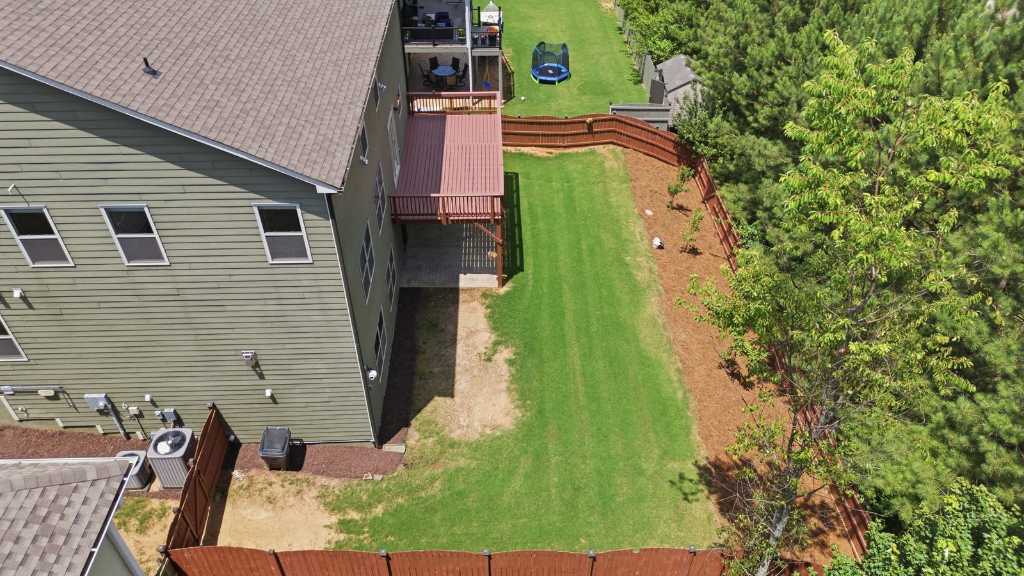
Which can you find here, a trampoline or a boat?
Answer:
trampoline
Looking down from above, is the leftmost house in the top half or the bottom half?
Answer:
bottom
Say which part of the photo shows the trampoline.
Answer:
top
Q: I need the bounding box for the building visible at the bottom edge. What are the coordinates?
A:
[0,457,143,576]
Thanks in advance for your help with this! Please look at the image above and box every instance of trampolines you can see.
[530,40,571,86]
